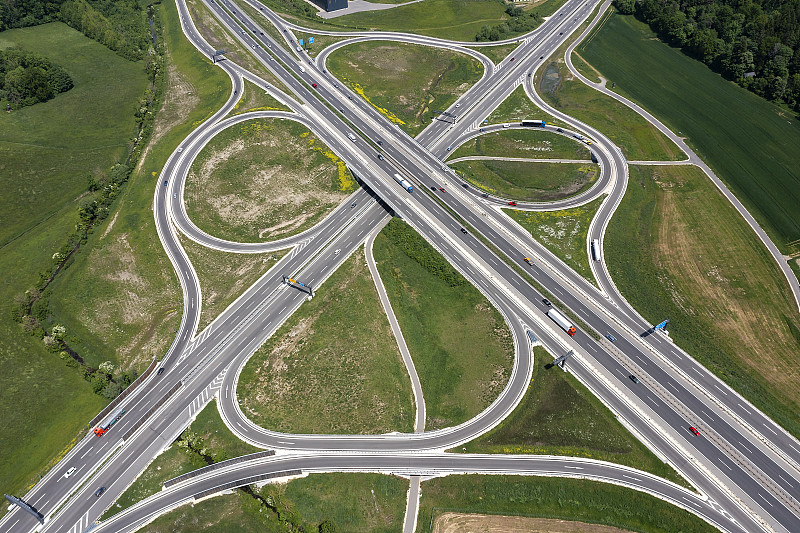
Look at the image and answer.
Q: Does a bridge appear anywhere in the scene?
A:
Yes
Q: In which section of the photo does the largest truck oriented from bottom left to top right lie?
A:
bottom left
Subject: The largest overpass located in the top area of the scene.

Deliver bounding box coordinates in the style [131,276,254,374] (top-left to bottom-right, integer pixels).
[345,128,470,222]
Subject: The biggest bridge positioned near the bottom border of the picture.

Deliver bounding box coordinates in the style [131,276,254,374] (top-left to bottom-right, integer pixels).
[149,455,293,519]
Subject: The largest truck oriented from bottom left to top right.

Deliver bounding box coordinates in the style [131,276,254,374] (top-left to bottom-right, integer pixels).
[94,406,127,438]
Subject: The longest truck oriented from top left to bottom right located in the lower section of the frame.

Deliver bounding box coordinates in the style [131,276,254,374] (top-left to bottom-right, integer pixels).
[548,307,576,335]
